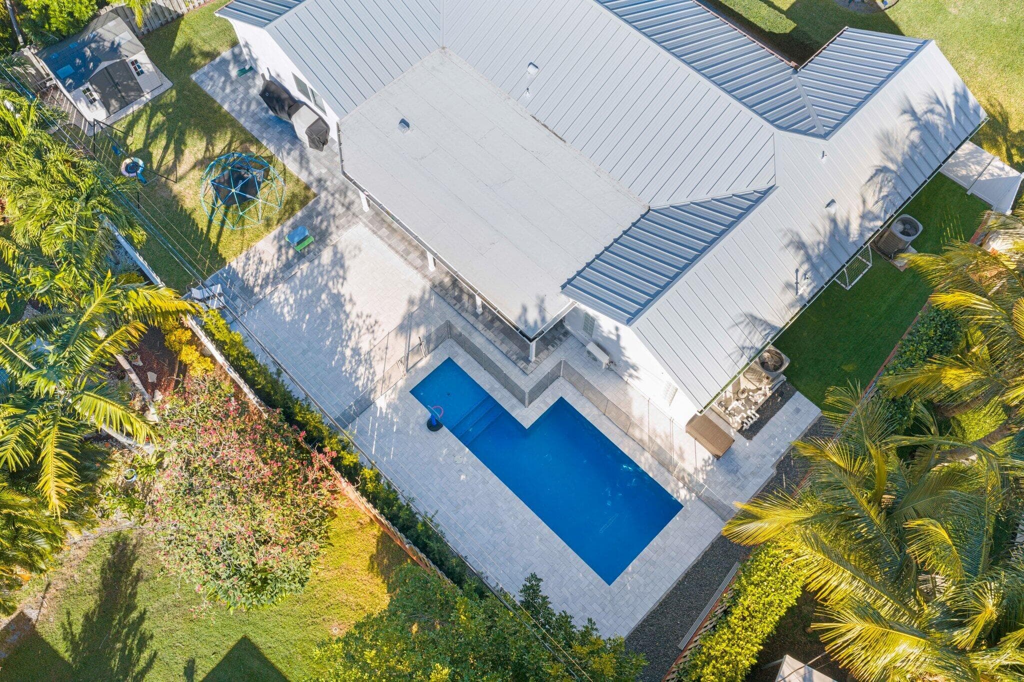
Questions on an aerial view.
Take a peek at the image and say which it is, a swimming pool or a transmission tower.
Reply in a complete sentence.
I can see a swimming pool in this picture.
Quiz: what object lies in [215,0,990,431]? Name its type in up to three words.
house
